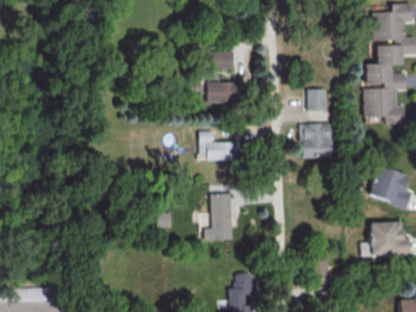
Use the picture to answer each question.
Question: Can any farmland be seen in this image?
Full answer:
No, there is no farmland in the image.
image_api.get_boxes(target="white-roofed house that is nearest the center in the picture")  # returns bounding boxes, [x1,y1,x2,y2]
[199,131,234,162]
